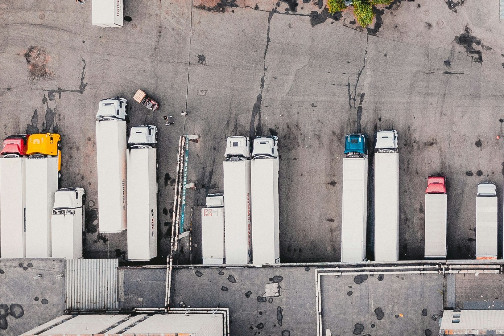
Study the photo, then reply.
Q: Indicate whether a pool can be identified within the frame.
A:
No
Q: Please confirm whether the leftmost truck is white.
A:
Yes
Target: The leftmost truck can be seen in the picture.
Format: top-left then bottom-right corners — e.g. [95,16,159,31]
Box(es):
[0,133,36,257]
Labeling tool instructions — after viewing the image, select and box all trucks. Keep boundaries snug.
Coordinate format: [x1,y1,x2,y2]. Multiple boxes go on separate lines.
[250,135,282,259]
[126,124,162,259]
[51,185,89,259]
[92,0,129,27]
[342,132,369,259]
[224,135,254,259]
[424,174,449,256]
[374,129,403,259]
[474,181,499,256]
[95,98,131,234]
[201,191,225,259]
[25,132,64,257]
[0,133,36,257]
